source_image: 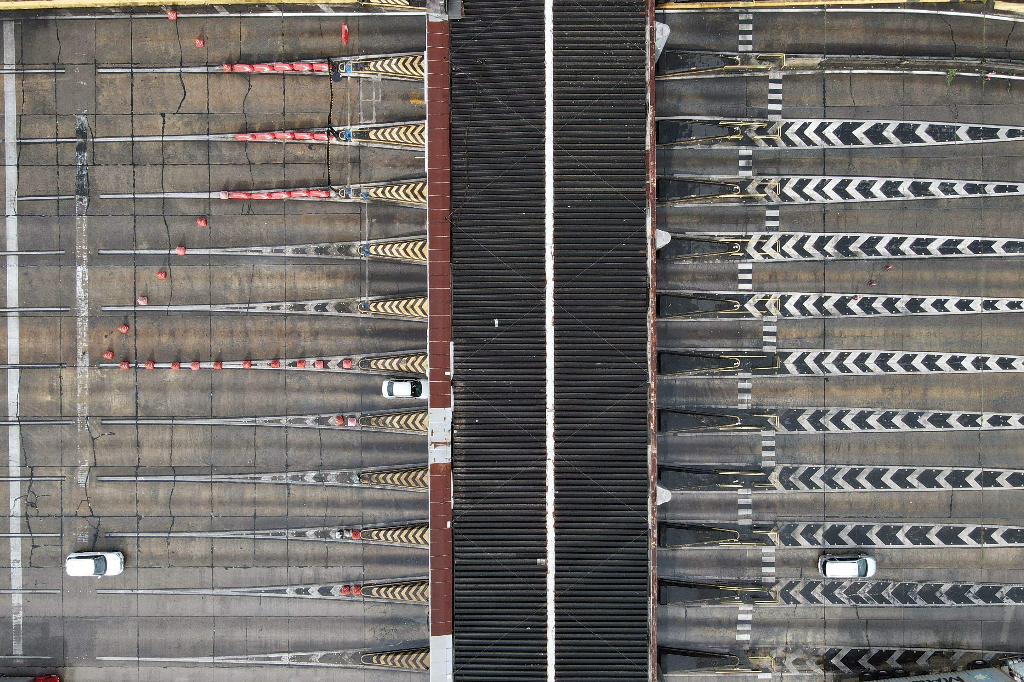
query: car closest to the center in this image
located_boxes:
[382,375,428,403]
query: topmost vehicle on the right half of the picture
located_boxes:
[818,552,877,582]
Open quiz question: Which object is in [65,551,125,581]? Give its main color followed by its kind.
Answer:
white car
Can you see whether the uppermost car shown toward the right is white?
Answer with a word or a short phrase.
Yes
